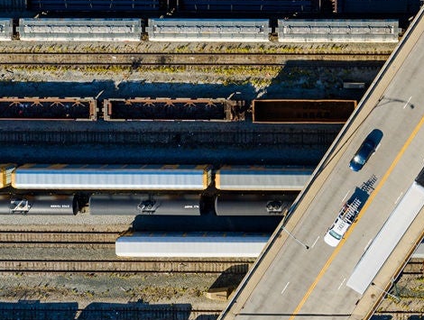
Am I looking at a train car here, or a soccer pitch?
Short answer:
train car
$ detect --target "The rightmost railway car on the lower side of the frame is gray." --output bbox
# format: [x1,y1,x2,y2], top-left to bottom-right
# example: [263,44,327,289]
[209,191,299,218]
